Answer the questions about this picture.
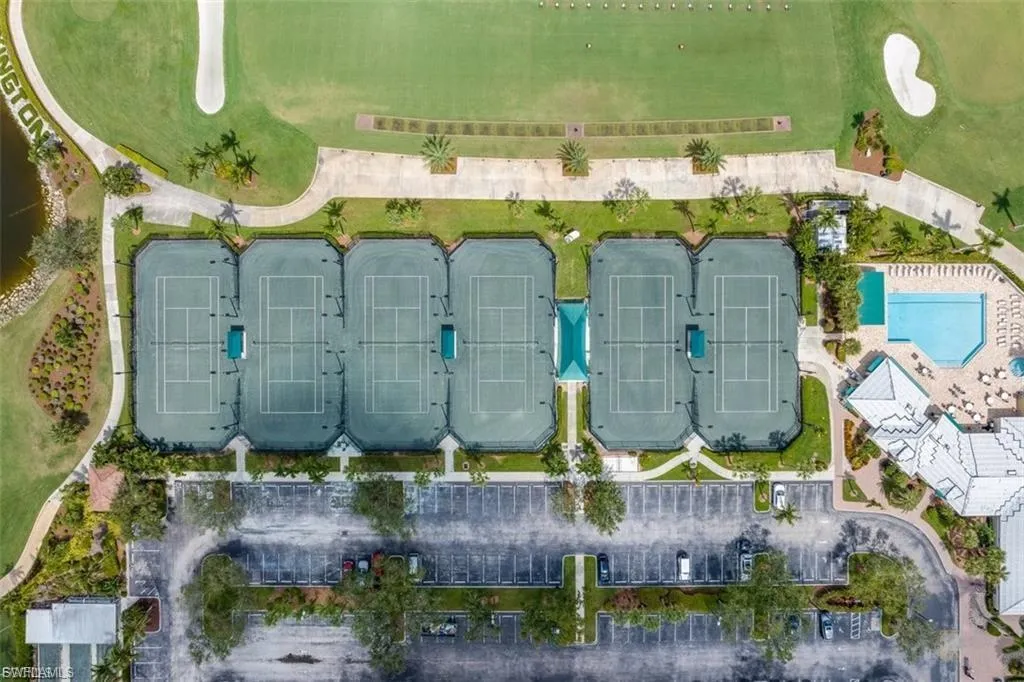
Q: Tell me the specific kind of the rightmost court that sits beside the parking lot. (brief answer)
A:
tennis court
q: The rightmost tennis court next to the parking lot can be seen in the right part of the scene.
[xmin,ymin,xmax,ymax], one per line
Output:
[693,238,800,449]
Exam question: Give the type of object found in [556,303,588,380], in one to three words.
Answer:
building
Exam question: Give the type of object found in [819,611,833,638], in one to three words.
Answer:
car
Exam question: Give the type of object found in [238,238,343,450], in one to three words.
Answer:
tennis court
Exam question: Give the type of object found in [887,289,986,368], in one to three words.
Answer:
swimming pool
